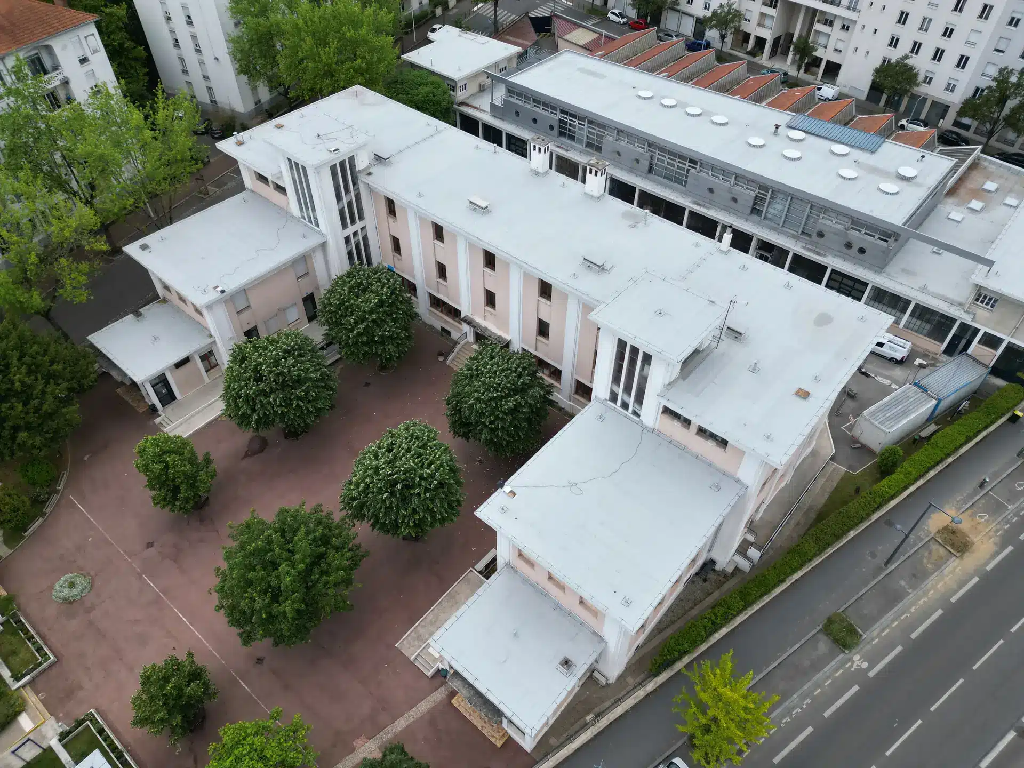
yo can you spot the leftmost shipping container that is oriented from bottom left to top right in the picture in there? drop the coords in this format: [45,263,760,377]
[852,382,936,452]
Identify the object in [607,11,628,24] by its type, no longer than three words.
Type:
vehicle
